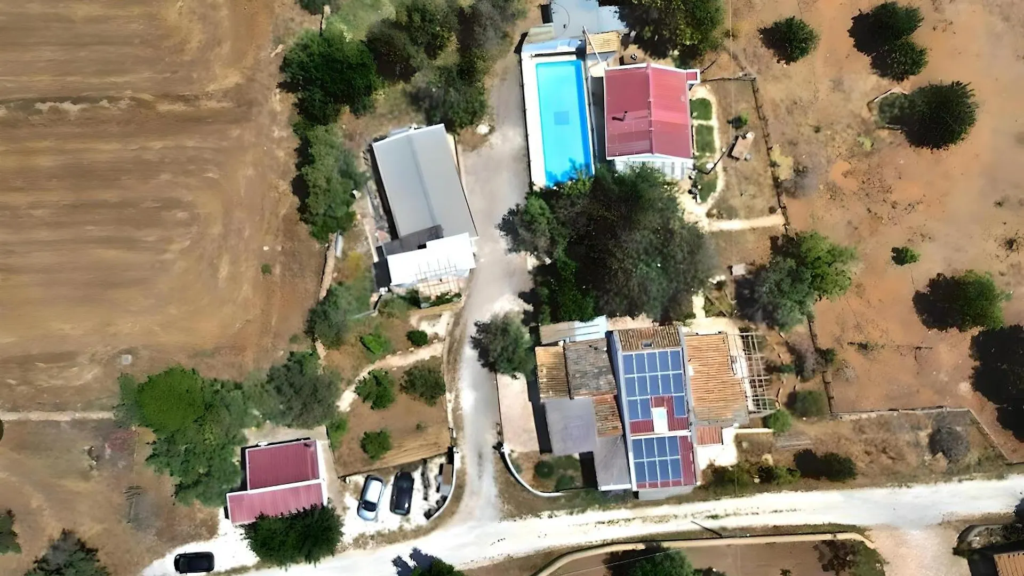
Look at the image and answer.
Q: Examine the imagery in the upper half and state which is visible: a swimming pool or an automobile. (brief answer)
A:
swimming pool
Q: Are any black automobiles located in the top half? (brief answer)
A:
No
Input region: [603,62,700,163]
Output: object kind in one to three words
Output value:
house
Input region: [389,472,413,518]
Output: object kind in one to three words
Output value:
car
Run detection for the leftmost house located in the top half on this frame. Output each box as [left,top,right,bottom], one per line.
[372,124,480,286]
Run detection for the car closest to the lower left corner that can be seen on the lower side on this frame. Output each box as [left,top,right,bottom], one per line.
[171,553,214,576]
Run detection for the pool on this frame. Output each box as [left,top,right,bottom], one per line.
[522,52,596,189]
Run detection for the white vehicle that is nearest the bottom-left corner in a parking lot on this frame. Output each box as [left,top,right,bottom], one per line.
[356,476,383,523]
